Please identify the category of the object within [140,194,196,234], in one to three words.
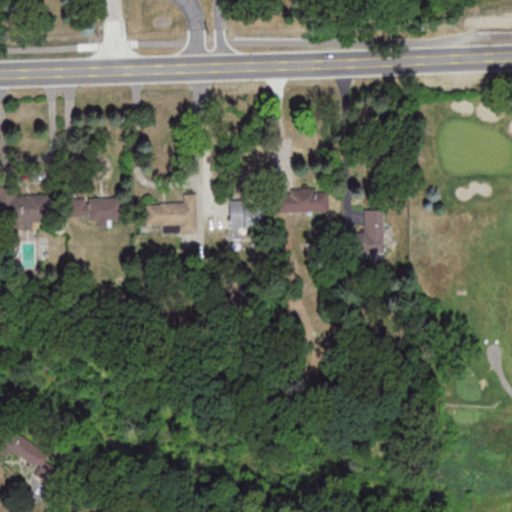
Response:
house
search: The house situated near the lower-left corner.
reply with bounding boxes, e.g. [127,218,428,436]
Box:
[2,432,48,480]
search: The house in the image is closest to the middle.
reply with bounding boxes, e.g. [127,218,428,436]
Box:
[227,199,256,240]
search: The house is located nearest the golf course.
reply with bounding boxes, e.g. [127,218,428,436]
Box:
[358,210,384,253]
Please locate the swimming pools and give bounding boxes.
[20,240,36,272]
